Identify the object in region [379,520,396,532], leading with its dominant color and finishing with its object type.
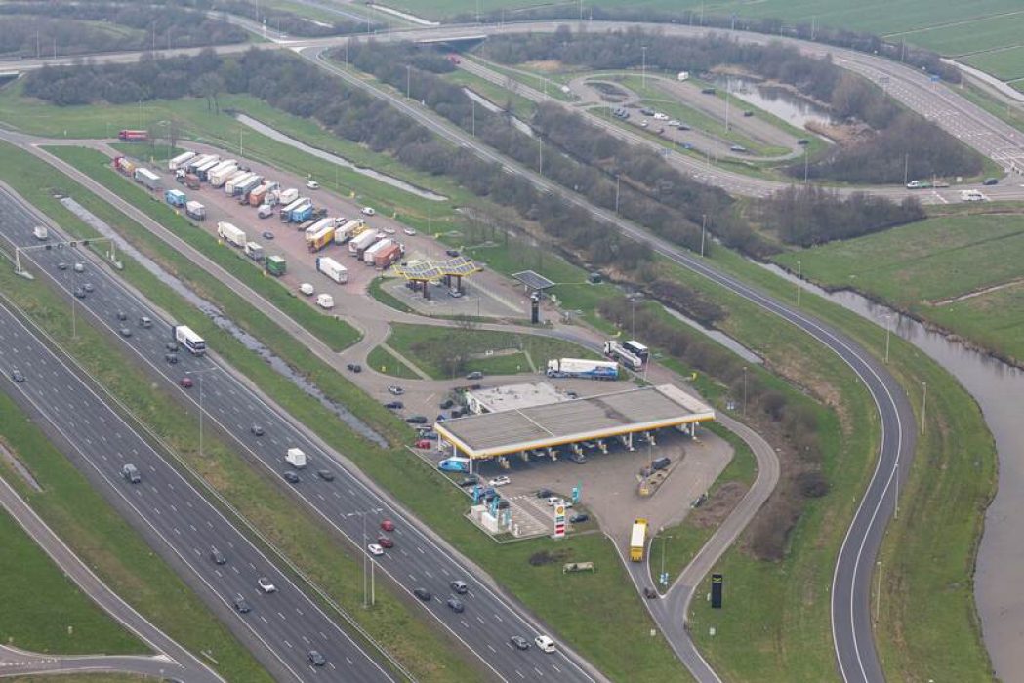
red vehicle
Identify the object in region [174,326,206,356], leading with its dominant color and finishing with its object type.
white truck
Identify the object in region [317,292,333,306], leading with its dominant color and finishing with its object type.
white vehicle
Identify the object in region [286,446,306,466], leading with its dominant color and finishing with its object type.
white vehicle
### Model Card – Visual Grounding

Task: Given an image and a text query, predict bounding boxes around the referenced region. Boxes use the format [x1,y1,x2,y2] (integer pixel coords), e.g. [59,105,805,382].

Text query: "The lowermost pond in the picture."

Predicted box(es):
[706,76,837,140]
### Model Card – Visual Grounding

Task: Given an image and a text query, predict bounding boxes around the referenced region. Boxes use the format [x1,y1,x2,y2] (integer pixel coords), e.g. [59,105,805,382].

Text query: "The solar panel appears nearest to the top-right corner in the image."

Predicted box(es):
[513,270,553,287]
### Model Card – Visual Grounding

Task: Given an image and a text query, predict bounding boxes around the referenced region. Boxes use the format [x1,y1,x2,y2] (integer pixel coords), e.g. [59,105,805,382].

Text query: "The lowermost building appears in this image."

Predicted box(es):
[465,380,586,416]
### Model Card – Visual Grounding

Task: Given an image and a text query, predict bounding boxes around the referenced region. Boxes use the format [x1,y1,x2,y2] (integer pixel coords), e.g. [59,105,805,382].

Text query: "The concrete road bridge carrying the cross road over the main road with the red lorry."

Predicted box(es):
[403,20,497,44]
